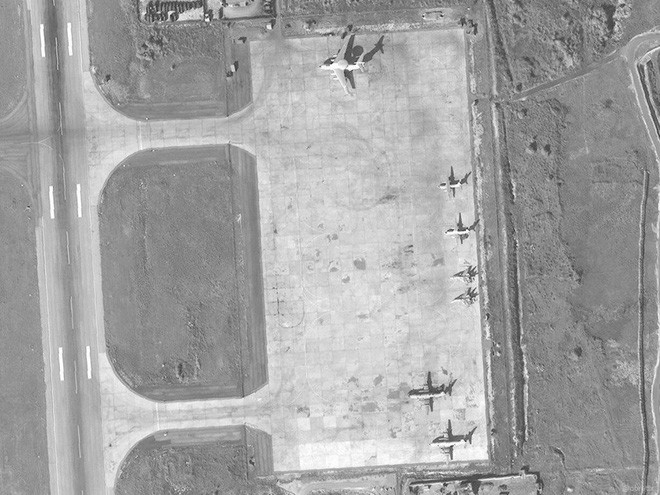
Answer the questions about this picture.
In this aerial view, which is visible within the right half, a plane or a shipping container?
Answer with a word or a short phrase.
plane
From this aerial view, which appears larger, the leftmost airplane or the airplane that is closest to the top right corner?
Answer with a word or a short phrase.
the leftmost airplane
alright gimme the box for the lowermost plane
[431,423,467,464]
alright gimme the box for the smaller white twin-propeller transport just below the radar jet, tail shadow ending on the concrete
[439,170,463,200]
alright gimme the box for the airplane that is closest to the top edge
[320,39,366,92]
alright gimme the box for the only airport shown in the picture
[23,0,489,495]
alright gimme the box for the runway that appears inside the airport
[23,0,115,495]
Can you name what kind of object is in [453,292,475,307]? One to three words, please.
airplane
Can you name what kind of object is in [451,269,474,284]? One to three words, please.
airplane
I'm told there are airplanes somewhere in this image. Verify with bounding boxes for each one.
[446,216,471,247]
[453,292,475,307]
[451,269,474,284]
[431,423,467,464]
[320,39,366,92]
[409,376,447,416]
[439,170,463,200]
